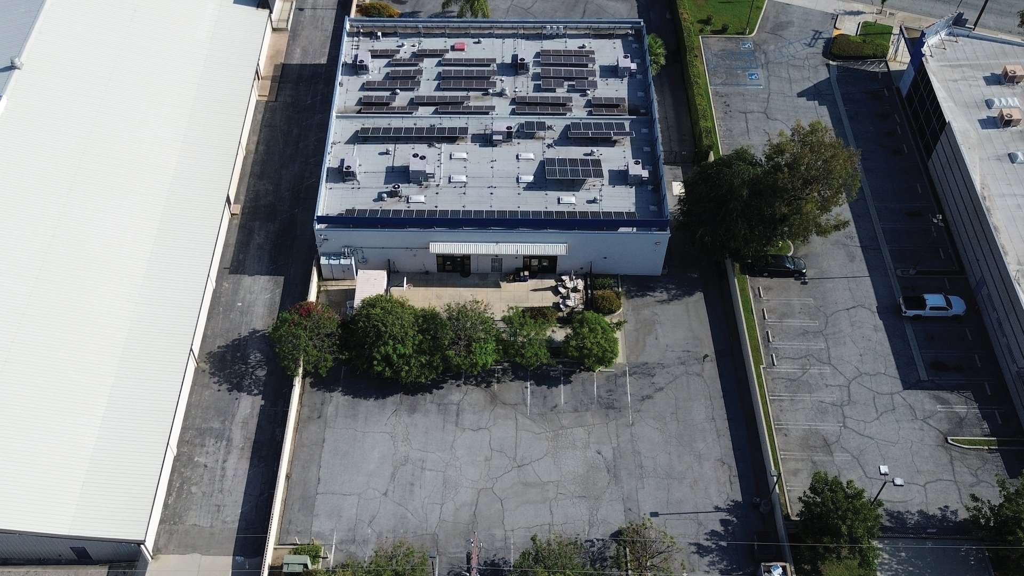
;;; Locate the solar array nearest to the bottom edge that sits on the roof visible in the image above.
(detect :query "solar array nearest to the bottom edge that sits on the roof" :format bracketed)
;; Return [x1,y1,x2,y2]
[345,202,637,228]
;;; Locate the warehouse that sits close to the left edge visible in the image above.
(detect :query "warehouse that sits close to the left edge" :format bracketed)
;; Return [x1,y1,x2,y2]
[0,0,276,558]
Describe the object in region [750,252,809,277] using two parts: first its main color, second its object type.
black car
